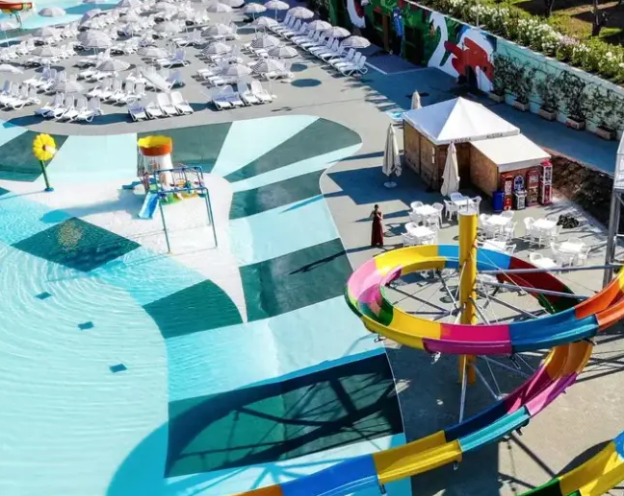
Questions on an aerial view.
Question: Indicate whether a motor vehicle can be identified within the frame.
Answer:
No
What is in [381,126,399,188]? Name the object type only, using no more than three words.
umbrella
